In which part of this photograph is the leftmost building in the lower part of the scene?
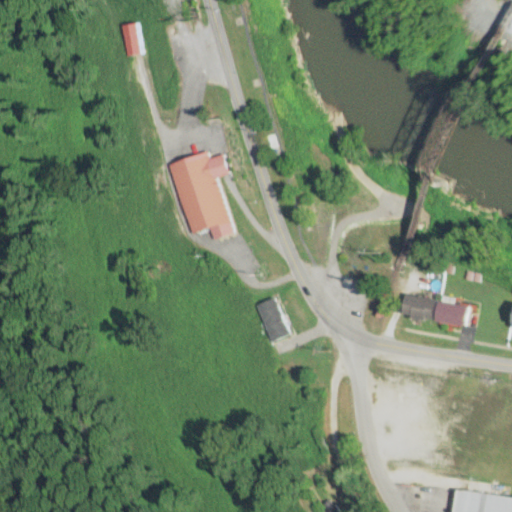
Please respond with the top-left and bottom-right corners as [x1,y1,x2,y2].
[256,298,292,342]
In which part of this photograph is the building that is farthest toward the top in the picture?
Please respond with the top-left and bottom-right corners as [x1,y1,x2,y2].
[122,21,147,56]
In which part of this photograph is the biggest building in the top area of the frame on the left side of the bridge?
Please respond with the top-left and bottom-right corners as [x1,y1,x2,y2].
[170,152,237,241]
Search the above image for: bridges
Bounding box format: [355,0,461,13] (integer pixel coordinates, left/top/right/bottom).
[396,6,512,265]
